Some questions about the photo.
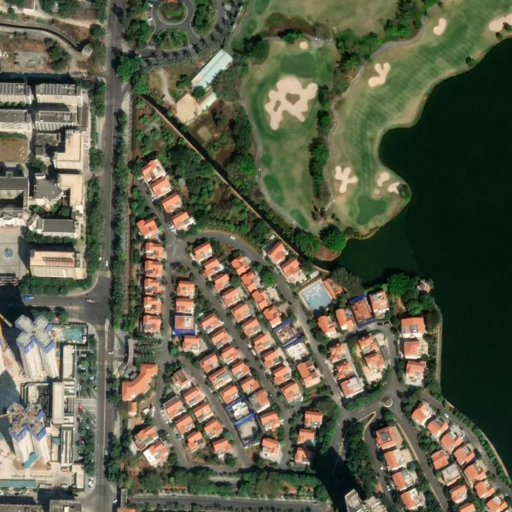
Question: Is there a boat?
No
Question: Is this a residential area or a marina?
residential area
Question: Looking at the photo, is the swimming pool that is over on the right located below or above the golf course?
below it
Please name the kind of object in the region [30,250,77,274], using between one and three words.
building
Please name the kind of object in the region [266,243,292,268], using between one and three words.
house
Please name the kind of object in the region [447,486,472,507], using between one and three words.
house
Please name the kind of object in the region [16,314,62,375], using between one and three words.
building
